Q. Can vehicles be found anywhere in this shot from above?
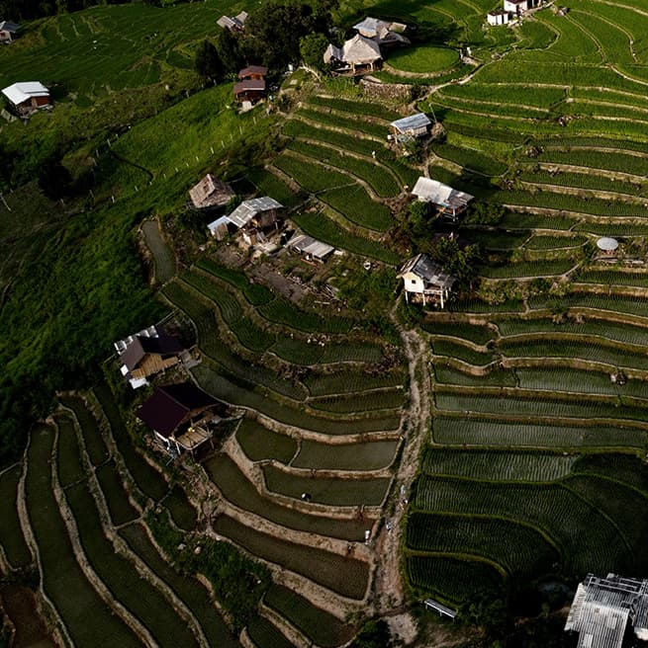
No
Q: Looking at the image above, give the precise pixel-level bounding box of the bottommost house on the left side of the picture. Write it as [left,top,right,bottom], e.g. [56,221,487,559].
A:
[136,380,218,456]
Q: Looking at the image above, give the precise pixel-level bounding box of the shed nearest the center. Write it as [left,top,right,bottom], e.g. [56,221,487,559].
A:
[290,235,335,268]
